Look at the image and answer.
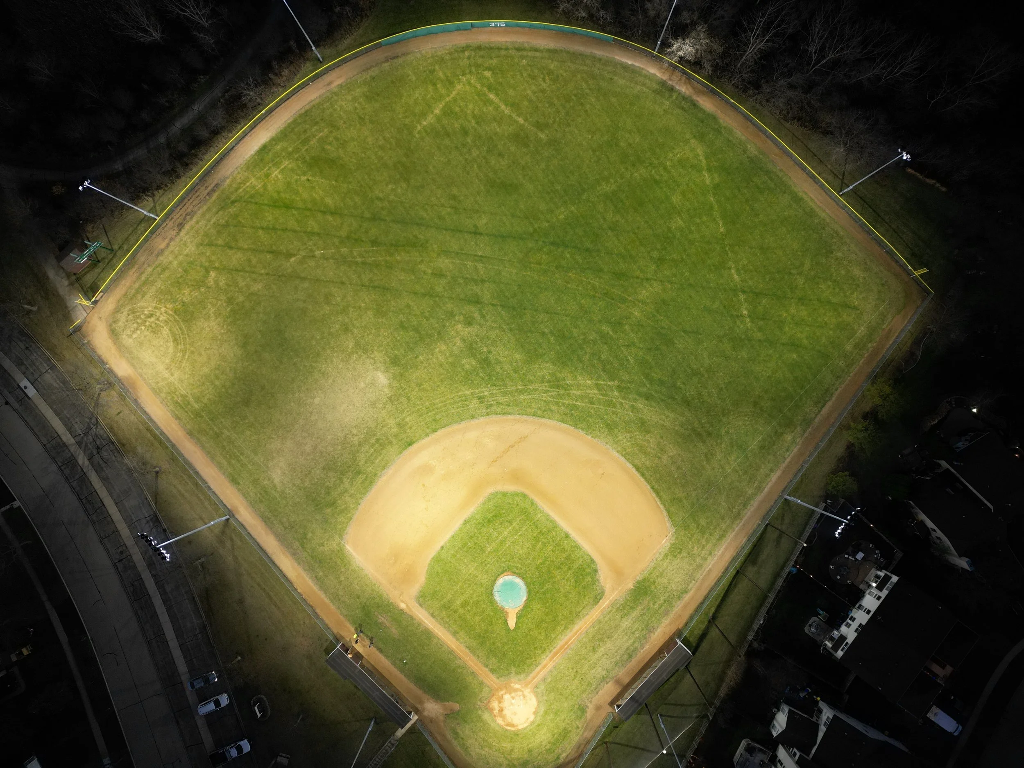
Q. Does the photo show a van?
Yes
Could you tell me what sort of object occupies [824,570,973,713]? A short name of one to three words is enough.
house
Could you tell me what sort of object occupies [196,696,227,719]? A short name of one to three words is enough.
car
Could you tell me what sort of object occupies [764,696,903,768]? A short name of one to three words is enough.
house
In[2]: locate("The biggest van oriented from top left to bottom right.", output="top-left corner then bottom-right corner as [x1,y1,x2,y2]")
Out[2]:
[929,707,965,737]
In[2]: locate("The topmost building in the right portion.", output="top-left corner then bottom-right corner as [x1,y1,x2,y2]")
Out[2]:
[924,410,1024,507]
